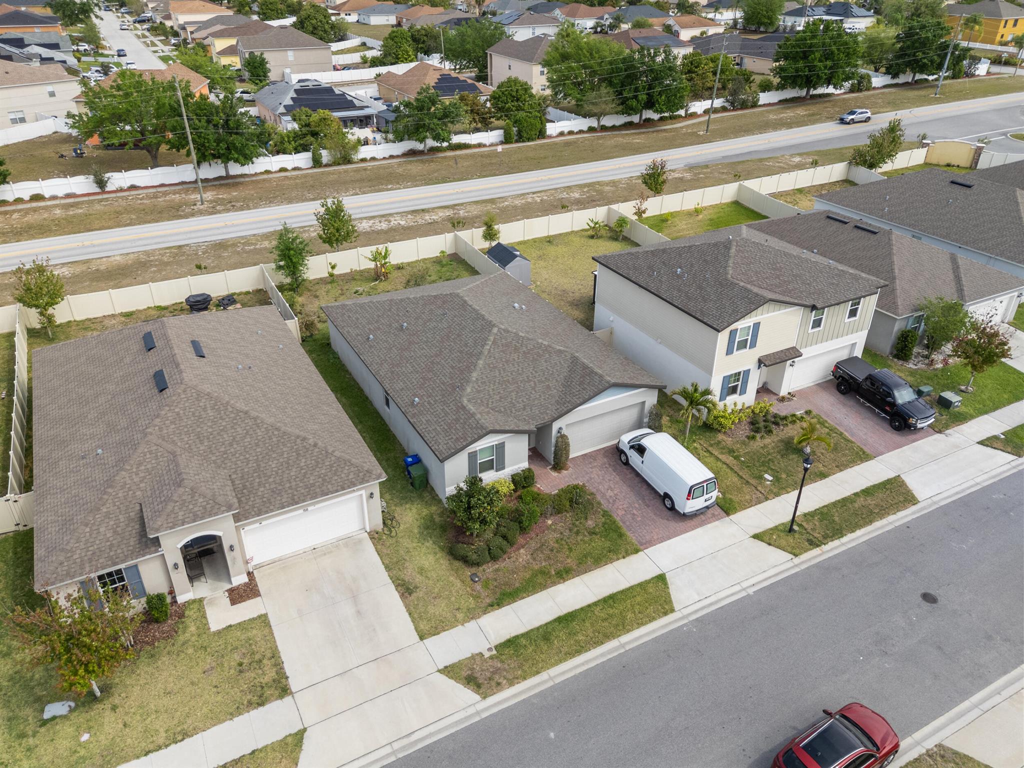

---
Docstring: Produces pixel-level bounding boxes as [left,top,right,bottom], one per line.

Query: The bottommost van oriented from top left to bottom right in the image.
[612,431,727,518]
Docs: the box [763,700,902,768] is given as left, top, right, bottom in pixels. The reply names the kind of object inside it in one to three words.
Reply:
car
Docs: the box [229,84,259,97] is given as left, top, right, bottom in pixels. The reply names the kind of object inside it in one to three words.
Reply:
vehicle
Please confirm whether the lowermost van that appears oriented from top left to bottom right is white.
Yes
